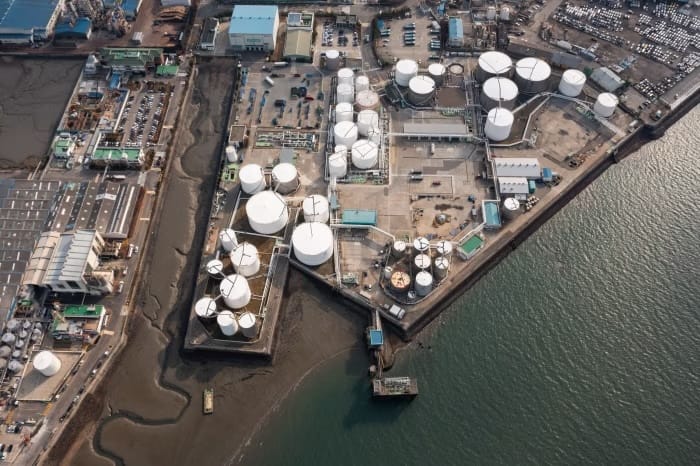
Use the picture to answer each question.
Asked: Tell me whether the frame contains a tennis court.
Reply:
No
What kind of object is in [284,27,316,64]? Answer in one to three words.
building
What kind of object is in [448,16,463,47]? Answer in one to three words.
shed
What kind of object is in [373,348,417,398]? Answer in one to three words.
pier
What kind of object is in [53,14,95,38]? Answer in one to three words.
shed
